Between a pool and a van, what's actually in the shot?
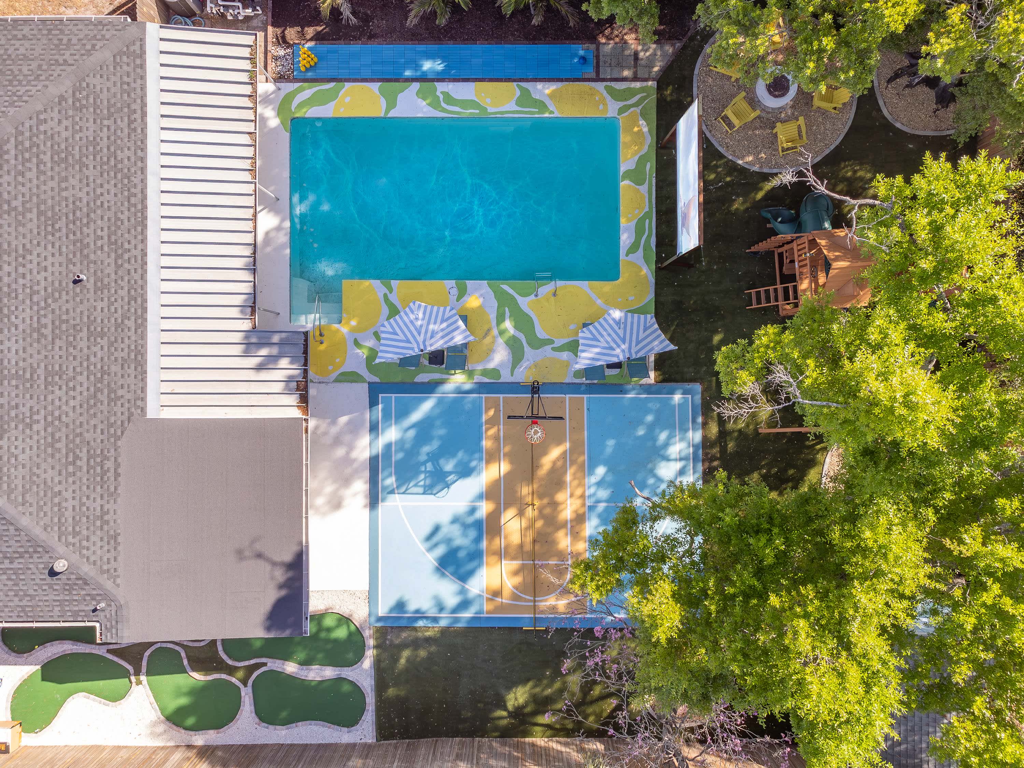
pool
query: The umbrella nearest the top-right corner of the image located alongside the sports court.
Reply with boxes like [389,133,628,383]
[572,309,677,370]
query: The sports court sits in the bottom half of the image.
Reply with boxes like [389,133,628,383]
[369,383,701,627]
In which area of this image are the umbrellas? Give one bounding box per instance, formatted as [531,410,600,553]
[373,301,478,366]
[572,309,677,370]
